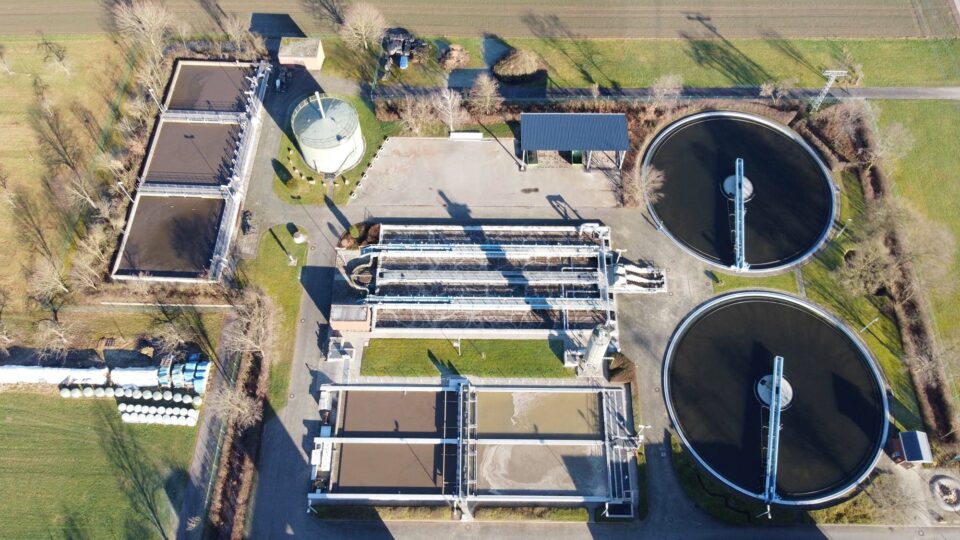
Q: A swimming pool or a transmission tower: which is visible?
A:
transmission tower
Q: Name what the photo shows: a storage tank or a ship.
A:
storage tank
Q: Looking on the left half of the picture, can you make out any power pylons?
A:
No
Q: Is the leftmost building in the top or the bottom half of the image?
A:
top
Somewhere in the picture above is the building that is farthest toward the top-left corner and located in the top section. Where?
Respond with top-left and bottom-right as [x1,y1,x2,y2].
[278,38,324,78]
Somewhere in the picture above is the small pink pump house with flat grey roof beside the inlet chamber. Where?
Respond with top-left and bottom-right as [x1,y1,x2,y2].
[328,305,368,331]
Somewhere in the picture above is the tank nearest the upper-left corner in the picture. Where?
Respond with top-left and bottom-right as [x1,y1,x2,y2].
[290,89,368,181]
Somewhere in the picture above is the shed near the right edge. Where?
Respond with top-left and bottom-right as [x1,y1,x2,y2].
[891,429,932,465]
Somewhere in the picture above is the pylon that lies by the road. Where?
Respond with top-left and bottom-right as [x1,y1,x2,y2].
[802,69,855,124]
